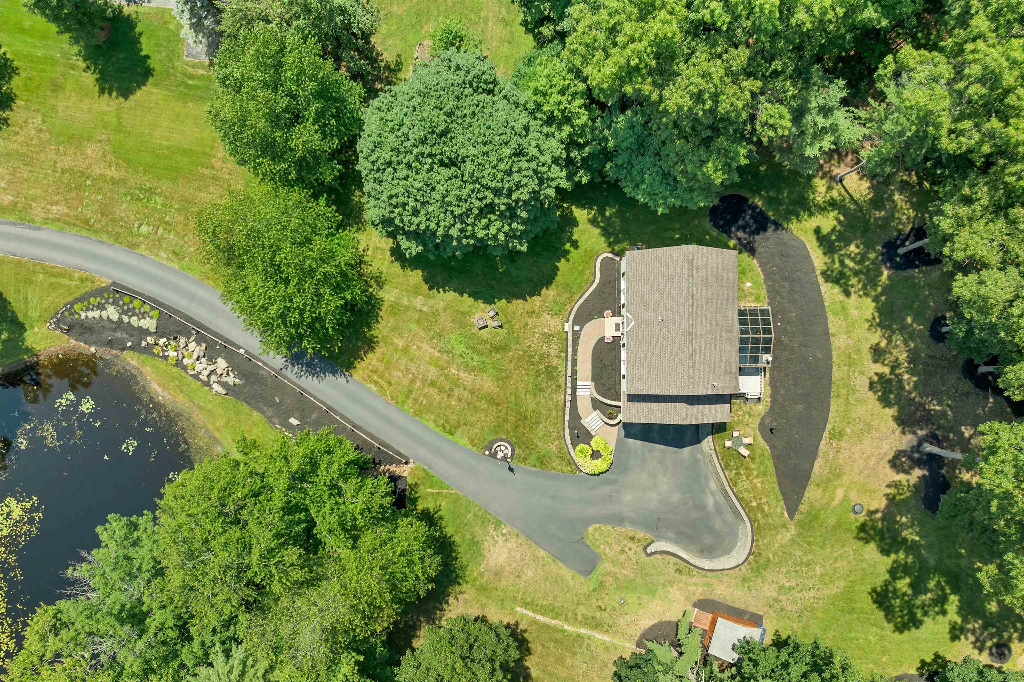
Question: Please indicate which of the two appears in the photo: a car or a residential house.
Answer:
residential house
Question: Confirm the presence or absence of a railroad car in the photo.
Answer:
No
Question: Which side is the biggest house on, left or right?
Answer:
right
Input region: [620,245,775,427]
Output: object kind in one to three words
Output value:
house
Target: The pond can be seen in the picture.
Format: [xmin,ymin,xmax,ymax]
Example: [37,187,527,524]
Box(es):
[0,375,182,682]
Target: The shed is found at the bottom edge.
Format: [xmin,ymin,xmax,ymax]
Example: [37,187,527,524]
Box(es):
[690,610,767,673]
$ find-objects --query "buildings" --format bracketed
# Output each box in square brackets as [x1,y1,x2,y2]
[690,610,767,673]
[620,245,775,427]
